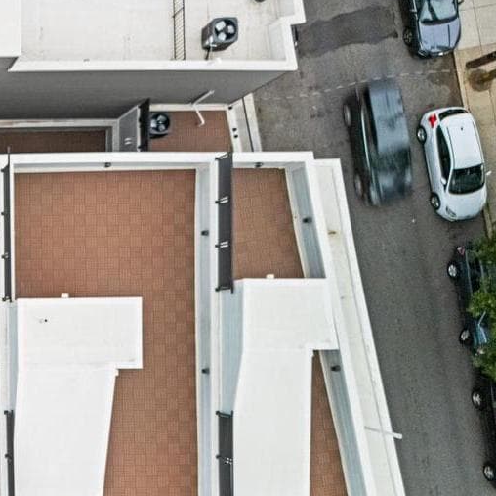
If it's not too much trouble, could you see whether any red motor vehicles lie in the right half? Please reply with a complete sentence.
No, looking in the right half, there is no red motor vehicle.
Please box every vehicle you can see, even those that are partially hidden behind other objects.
[343,79,422,203]
[448,240,496,355]
[417,106,494,220]
[398,0,467,59]
[471,371,496,485]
